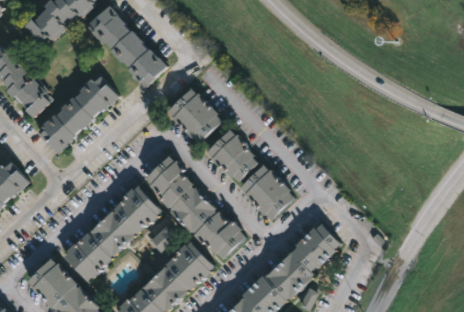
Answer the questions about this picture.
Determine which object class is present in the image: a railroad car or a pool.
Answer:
pool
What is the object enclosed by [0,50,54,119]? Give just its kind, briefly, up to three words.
building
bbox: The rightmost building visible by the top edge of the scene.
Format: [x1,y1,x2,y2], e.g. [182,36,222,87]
[93,8,170,88]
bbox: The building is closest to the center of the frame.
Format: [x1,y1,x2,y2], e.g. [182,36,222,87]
[210,130,262,184]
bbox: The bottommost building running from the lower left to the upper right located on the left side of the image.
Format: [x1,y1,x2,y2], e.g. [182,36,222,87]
[122,244,216,312]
